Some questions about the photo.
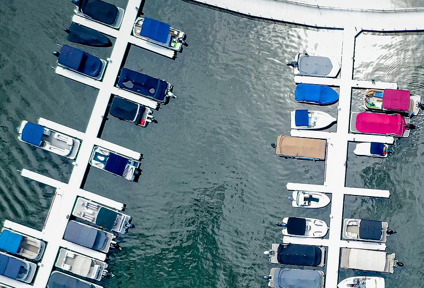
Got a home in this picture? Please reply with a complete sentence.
No, I can't see a single home in this photo.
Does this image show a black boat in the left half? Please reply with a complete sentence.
Yes, a black boat can be seen in the left half.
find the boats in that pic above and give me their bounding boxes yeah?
[14,122,80,162]
[0,251,37,281]
[50,45,108,80]
[289,55,340,77]
[48,272,102,288]
[353,142,397,158]
[269,135,328,160]
[0,228,46,260]
[290,110,337,129]
[108,96,157,127]
[346,111,415,137]
[88,147,147,180]
[337,277,388,288]
[72,196,133,235]
[129,16,190,52]
[360,88,424,115]
[112,67,177,104]
[70,0,129,28]
[283,191,329,208]
[63,23,113,49]
[295,84,339,105]
[55,247,111,280]
[338,218,395,241]
[339,249,403,273]
[261,243,328,267]
[261,267,328,288]
[277,217,329,237]
[64,221,120,252]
